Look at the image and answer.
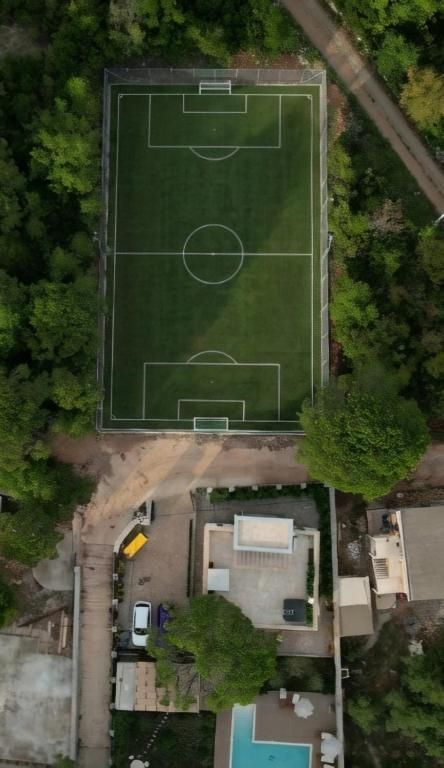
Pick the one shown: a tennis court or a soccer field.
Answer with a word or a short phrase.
soccer field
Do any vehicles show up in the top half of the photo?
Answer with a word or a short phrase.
No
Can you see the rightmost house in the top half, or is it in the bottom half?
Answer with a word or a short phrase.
bottom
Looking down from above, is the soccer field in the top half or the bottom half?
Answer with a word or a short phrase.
top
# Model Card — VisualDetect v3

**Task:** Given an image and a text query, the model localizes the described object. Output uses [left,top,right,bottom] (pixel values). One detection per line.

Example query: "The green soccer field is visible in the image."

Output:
[102,85,320,430]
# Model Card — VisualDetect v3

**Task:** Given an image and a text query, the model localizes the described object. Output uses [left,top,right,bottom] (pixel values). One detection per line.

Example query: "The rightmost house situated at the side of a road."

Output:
[362,500,444,610]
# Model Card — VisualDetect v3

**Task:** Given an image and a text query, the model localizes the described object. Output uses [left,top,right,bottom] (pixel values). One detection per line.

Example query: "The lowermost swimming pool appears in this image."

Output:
[229,699,315,768]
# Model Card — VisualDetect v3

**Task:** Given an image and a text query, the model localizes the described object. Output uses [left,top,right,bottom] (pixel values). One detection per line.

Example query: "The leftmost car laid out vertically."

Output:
[129,599,153,646]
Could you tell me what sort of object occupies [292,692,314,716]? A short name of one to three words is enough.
umbrella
